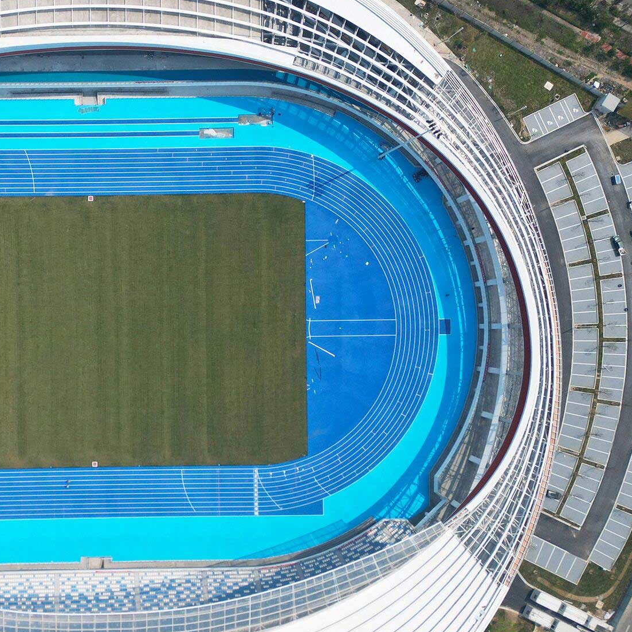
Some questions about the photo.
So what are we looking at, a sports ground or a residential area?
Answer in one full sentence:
It's a sports ground.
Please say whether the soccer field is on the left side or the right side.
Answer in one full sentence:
You can find the soccer field on the left side of the picture.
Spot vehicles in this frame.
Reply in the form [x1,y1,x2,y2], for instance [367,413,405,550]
[612,234,630,257]
[611,170,625,187]
[546,489,564,501]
